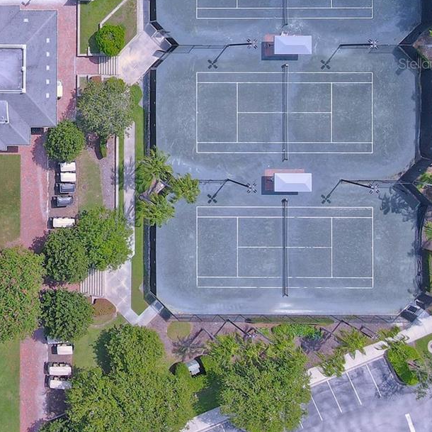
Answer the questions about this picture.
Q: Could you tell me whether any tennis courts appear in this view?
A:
Yes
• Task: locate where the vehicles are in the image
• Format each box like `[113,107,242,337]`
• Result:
[56,171,75,182]
[54,340,73,353]
[42,329,61,342]
[47,373,71,389]
[56,82,63,99]
[47,360,71,374]
[53,193,73,205]
[52,215,75,226]
[56,161,75,172]
[55,182,75,193]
